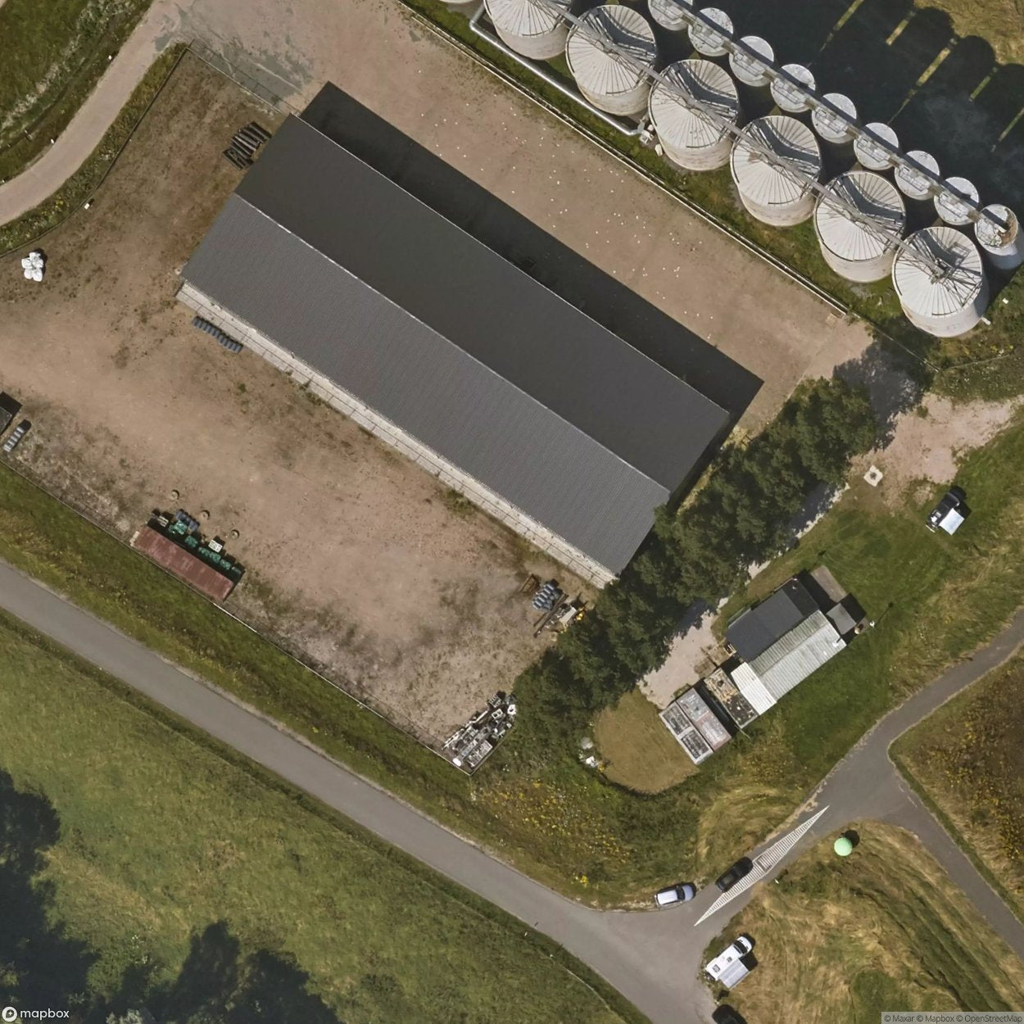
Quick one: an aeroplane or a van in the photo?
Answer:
van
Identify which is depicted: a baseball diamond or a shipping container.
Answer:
shipping container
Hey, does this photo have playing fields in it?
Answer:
No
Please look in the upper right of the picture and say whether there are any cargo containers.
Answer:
No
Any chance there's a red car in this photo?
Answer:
No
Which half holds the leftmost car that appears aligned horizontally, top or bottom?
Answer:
bottom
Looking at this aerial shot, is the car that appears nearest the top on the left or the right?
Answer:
right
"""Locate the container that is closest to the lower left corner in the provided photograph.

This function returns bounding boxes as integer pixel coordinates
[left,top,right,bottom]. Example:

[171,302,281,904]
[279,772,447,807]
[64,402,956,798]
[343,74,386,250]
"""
[133,526,236,603]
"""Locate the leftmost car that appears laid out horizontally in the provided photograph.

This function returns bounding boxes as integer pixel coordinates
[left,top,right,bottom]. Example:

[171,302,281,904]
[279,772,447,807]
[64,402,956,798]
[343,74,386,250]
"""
[655,886,695,909]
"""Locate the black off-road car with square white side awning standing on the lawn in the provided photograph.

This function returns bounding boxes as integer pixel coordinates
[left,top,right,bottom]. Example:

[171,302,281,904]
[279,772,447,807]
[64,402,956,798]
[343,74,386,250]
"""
[923,490,963,536]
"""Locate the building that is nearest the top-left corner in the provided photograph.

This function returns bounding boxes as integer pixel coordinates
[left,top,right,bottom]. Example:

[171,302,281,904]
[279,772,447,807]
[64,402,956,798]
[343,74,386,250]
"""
[181,115,728,577]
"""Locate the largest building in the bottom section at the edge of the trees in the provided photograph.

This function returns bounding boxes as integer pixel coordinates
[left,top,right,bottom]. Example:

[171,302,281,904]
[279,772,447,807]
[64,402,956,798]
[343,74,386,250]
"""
[725,577,846,701]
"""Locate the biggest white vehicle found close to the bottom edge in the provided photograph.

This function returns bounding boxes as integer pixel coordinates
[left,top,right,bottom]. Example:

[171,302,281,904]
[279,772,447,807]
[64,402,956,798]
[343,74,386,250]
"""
[704,937,753,994]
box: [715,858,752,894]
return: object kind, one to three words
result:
car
